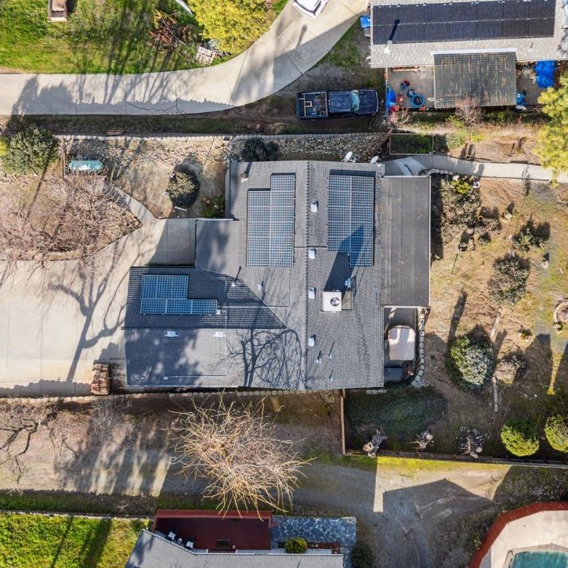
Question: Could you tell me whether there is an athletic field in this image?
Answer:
No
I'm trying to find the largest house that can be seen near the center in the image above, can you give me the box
[119,148,430,394]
